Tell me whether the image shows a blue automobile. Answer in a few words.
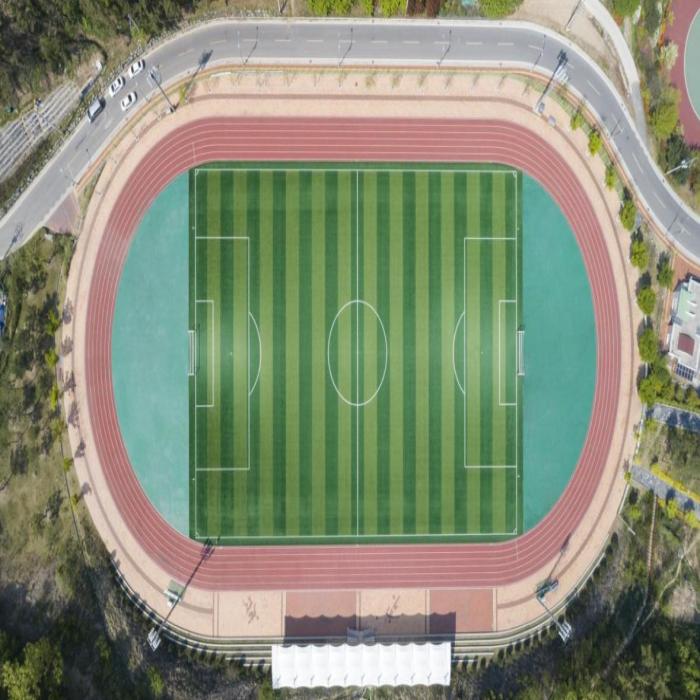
No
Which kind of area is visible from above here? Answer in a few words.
sports ground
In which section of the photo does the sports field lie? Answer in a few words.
center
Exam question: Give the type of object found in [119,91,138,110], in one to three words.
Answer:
car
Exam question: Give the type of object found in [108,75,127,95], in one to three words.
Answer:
car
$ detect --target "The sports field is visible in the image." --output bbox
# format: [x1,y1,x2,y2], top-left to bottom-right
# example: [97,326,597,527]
[189,165,523,543]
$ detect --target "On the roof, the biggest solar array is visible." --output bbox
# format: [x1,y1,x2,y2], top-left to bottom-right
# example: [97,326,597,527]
[674,362,695,383]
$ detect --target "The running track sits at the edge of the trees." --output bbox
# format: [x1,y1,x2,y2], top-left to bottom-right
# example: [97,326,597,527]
[86,118,621,589]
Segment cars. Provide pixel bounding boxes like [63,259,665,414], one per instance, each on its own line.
[85,97,105,122]
[108,75,127,95]
[119,91,138,110]
[128,59,147,78]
